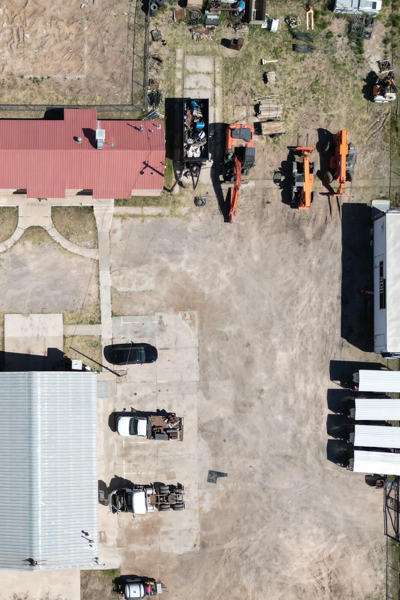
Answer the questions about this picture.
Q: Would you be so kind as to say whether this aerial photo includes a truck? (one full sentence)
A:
Yes, a truck is visible in the scene.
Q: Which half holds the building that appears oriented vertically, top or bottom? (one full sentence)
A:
You can find the building that appears oriented vertically in the bottom half.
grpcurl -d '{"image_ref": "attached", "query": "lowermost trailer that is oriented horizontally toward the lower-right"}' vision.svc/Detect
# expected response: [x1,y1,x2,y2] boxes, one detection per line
[334,449,400,476]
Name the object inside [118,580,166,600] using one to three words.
trailer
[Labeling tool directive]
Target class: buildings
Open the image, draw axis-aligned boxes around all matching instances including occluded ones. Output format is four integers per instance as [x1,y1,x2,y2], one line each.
[0,108,165,198]
[0,360,102,570]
